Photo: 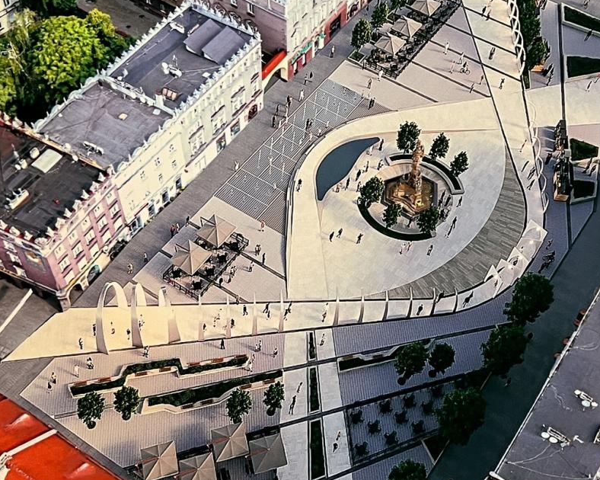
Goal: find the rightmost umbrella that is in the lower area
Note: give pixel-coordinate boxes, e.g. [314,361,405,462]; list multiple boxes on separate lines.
[248,432,289,473]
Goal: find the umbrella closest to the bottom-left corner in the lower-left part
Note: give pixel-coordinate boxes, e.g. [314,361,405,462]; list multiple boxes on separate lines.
[137,440,180,480]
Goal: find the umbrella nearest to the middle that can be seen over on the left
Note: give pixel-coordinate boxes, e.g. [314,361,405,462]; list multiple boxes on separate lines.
[195,216,237,249]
